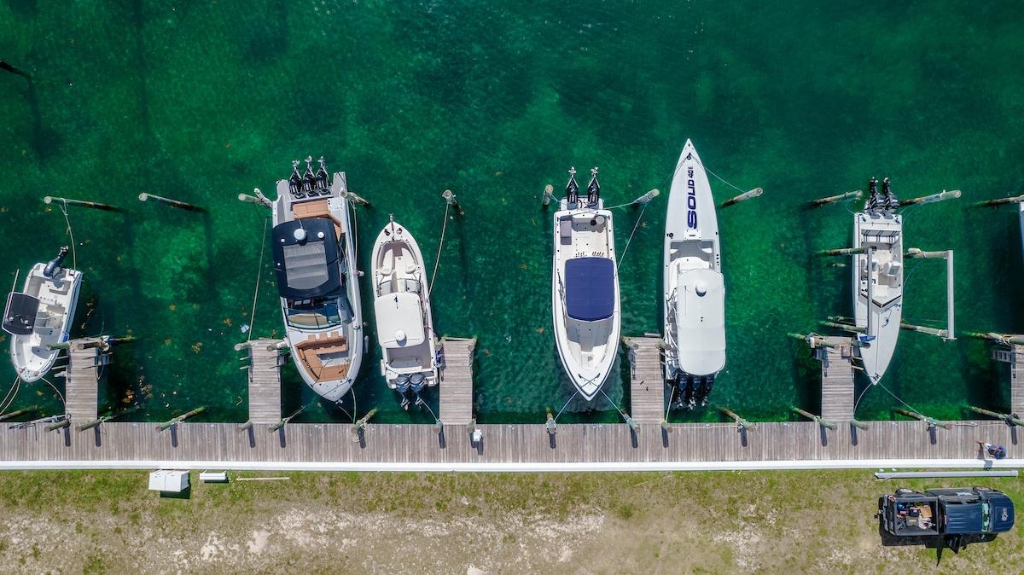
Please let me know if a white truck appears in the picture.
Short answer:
No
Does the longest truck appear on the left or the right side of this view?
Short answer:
right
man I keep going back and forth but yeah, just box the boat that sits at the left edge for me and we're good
[2,244,88,382]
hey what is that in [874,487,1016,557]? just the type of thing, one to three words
truck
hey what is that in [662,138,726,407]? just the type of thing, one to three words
boat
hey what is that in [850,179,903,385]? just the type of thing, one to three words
boat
